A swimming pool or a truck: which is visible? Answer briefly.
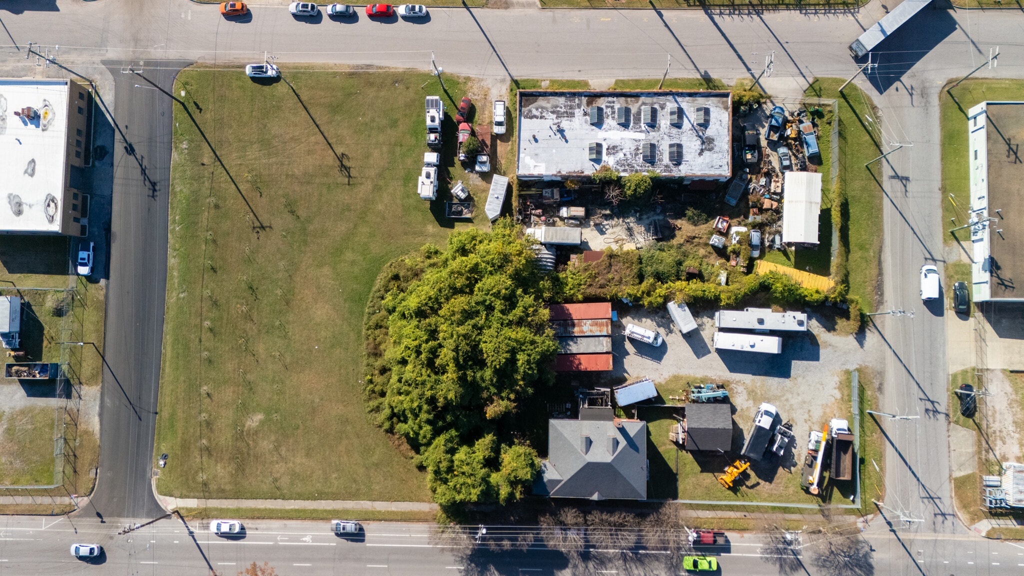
truck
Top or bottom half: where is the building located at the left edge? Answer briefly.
top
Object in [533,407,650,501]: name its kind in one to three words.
house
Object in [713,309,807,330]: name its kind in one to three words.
camper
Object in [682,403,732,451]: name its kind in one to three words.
shed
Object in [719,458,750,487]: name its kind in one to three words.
work vehicle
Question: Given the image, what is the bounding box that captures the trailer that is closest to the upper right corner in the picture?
[853,0,930,58]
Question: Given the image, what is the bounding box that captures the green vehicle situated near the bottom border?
[683,556,717,572]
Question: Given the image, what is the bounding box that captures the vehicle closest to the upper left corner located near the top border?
[220,1,248,16]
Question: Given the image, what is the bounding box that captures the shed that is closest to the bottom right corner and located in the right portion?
[994,461,1024,506]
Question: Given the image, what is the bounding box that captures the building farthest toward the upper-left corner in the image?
[0,79,89,238]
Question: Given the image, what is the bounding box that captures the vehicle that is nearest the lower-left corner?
[71,543,103,558]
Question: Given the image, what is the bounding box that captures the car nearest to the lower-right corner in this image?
[959,385,976,414]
